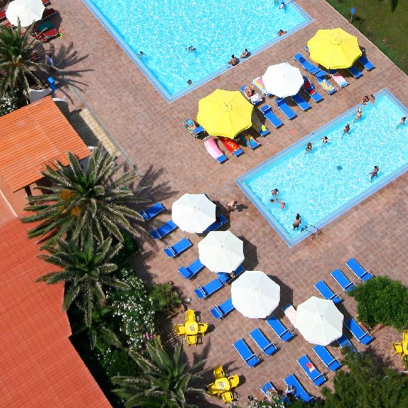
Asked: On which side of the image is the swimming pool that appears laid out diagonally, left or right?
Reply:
right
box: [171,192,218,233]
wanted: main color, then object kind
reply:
white umbrella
